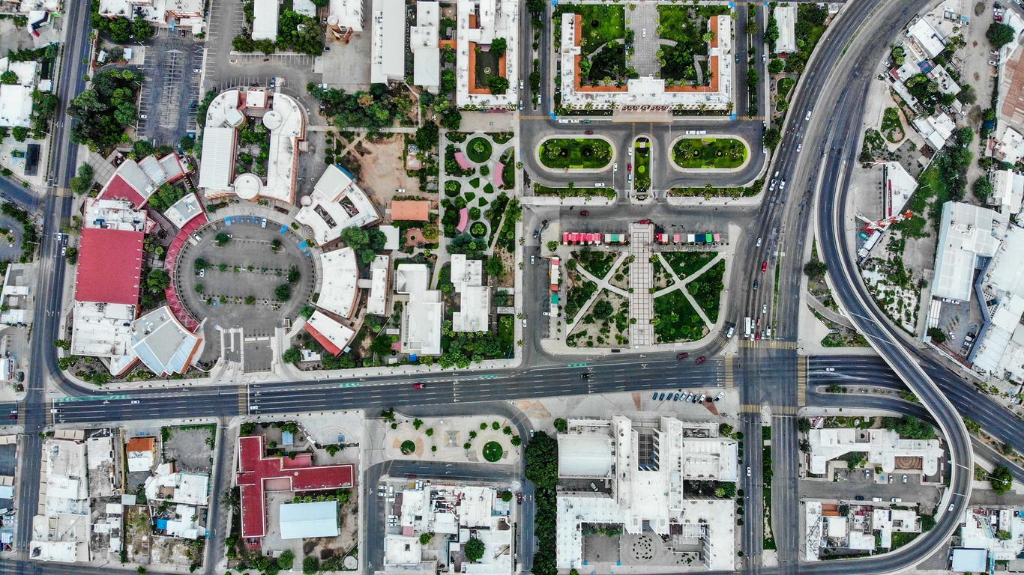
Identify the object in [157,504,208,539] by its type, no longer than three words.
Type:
house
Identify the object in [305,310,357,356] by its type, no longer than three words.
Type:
building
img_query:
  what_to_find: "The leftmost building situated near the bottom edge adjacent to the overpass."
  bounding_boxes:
[556,415,738,570]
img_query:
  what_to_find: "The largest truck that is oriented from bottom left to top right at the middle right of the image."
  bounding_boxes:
[856,230,880,259]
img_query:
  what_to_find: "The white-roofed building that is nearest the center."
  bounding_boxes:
[451,255,491,332]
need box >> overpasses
[814,153,974,575]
